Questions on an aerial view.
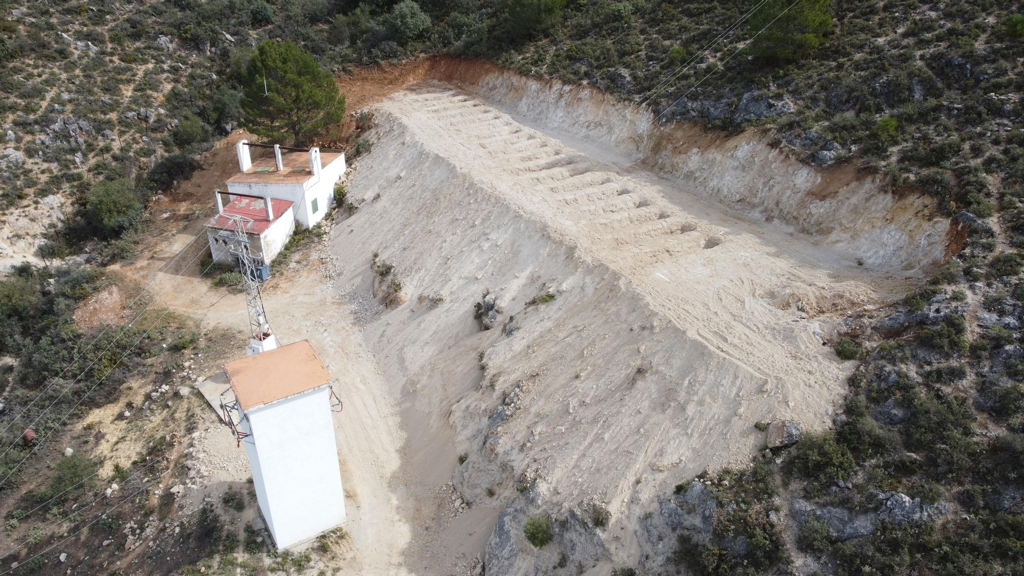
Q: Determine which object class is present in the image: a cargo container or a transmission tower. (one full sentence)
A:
Visible in the photo is a transmission tower.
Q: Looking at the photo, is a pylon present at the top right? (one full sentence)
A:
No, no pylon can be made out at the top right.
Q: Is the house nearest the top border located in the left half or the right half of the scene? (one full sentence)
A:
You can find the house nearest the top border on the left side of the picture.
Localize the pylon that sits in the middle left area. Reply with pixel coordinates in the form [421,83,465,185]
[210,219,274,359]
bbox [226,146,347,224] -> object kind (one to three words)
house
